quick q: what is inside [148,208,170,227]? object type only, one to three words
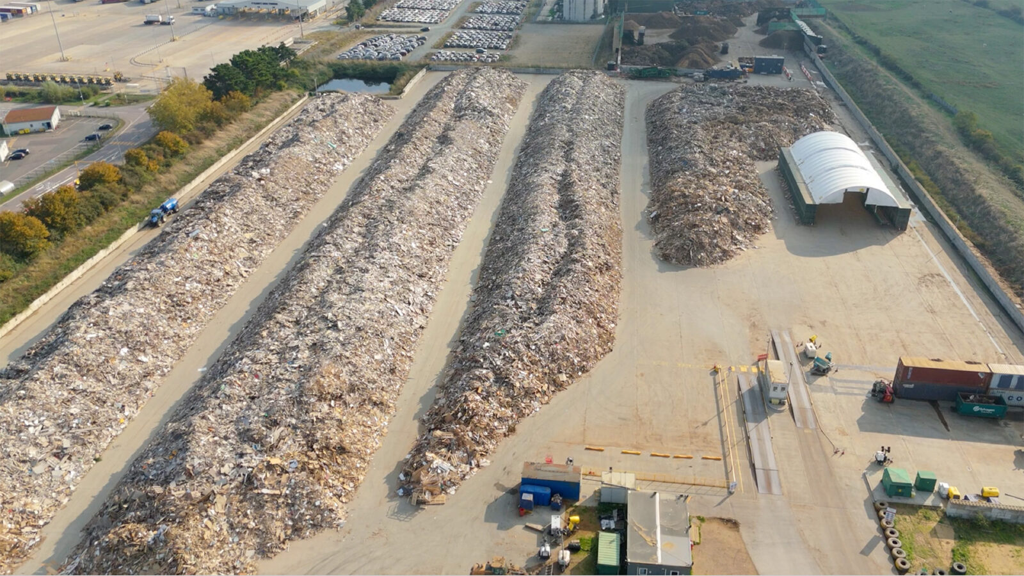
work vehicle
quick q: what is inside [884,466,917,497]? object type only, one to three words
shed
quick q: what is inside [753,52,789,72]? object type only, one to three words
building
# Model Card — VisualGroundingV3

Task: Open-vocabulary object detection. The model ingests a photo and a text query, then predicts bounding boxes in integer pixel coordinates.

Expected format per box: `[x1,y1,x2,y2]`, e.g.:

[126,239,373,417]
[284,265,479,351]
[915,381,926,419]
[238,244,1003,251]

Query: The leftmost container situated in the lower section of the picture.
[521,462,581,499]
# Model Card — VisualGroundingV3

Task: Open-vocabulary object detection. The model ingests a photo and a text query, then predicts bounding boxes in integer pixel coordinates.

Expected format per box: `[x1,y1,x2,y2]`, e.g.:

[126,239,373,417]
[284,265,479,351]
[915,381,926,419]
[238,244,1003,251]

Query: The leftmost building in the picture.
[0,103,56,135]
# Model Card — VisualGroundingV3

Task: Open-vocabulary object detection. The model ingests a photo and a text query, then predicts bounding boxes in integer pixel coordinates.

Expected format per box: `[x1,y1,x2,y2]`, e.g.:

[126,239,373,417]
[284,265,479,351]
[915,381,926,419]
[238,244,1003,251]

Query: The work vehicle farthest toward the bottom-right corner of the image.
[872,375,898,404]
